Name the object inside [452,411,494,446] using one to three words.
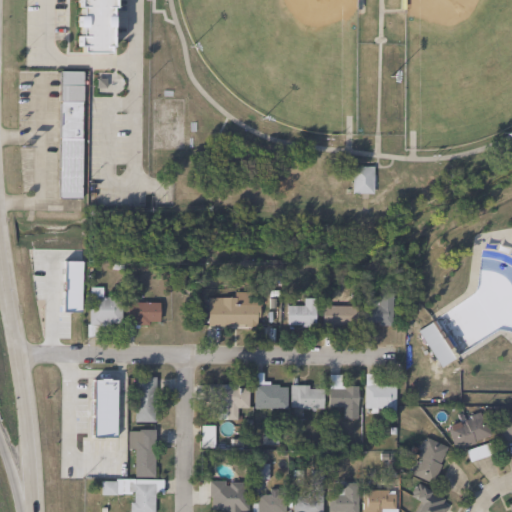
house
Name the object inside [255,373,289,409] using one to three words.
house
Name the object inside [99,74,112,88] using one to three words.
gazebo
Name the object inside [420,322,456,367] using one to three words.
building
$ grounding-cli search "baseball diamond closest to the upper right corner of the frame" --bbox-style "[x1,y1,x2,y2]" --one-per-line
[406,0,512,149]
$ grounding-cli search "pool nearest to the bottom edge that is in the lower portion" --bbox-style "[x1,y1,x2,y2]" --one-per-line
[216,464,235,480]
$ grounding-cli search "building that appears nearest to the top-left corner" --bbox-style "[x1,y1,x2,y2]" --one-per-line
[76,0,121,54]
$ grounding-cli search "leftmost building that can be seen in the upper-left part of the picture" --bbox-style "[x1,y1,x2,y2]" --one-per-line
[61,72,86,198]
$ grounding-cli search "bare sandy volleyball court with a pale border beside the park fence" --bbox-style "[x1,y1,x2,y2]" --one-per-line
[152,96,186,154]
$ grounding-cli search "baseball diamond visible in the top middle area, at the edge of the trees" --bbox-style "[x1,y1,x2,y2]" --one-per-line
[180,0,359,134]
